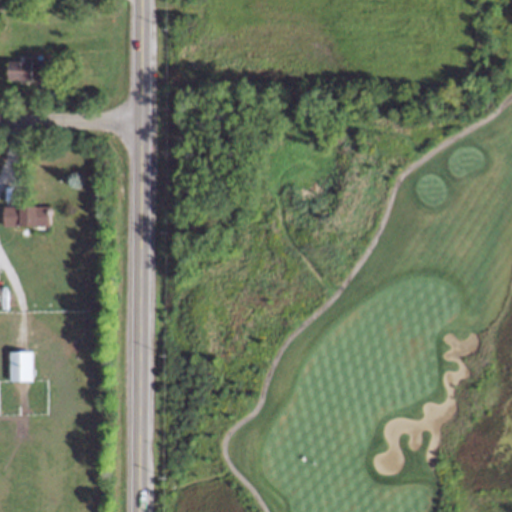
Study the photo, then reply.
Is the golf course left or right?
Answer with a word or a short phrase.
right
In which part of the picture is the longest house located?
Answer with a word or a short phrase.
left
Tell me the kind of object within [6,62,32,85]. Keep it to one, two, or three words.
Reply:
house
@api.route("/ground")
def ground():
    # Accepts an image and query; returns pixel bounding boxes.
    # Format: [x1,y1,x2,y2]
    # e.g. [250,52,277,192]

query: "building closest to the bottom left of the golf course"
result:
[10,351,34,382]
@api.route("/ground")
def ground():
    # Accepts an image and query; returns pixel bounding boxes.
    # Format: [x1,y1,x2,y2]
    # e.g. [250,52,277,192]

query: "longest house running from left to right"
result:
[2,206,52,230]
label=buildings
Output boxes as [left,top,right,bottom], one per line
[6,62,32,85]
[10,351,34,382]
[2,206,52,230]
